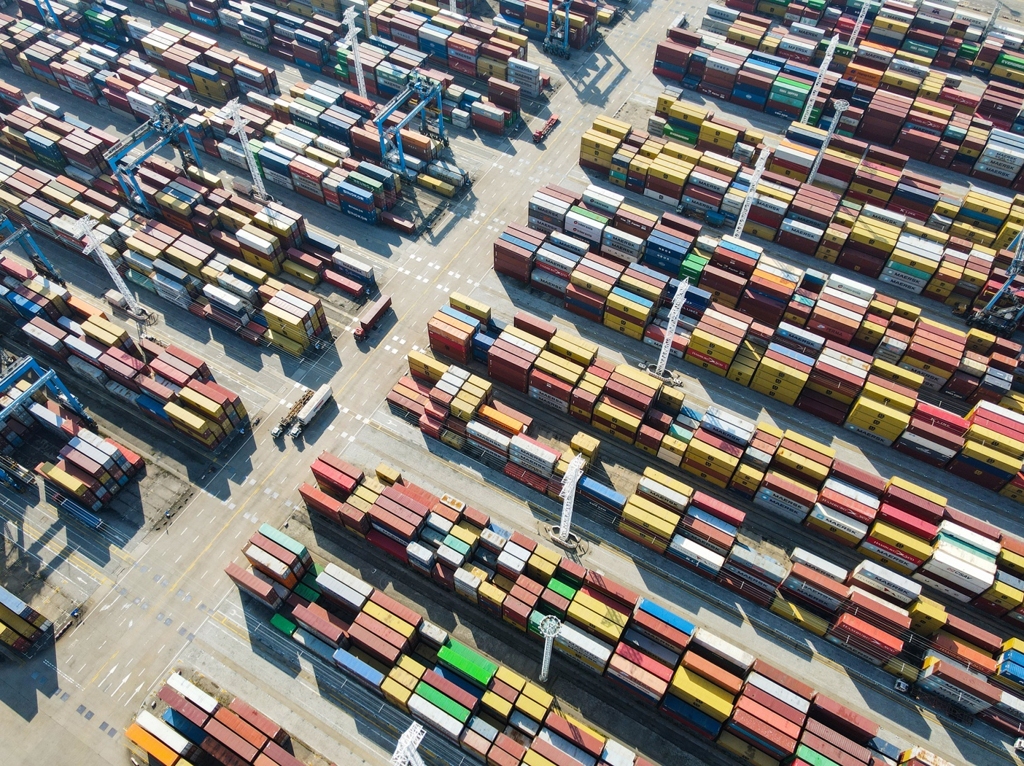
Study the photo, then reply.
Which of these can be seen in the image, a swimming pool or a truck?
truck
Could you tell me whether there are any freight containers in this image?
Yes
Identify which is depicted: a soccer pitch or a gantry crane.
gantry crane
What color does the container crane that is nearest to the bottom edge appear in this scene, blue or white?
blue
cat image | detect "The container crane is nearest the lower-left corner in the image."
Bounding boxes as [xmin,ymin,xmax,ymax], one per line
[0,347,98,491]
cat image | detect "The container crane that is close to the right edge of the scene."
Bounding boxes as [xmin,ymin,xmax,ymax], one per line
[967,228,1024,345]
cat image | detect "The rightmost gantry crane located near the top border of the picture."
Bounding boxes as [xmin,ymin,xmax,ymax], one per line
[538,0,573,57]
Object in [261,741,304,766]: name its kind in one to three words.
shipping container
